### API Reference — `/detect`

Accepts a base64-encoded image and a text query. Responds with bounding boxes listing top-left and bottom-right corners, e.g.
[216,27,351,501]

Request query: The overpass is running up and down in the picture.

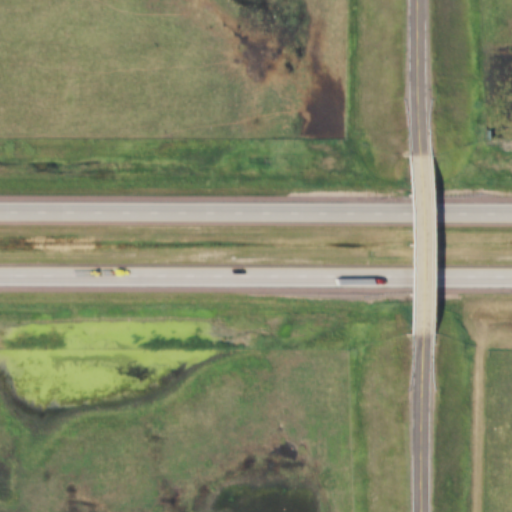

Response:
[406,146,438,344]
